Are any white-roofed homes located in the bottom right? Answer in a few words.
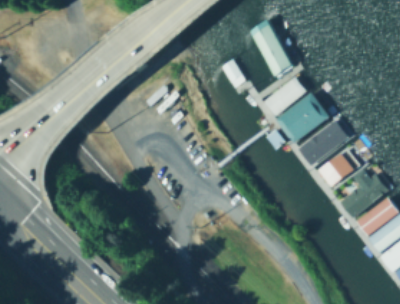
Yes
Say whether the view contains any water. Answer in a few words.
Yes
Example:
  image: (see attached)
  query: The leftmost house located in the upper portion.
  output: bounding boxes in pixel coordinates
[223,59,248,88]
